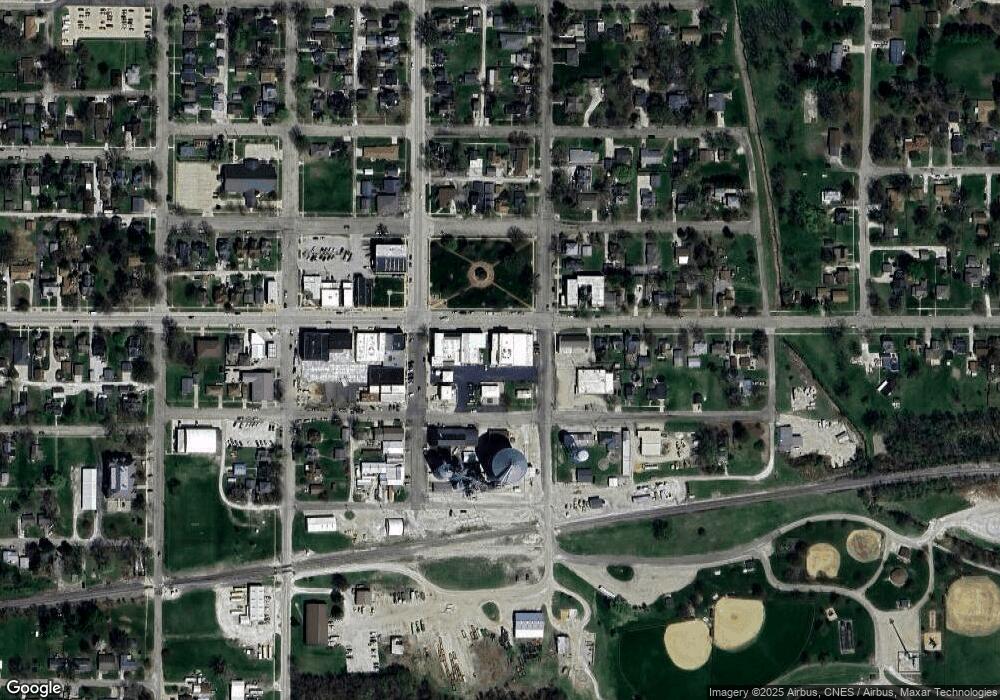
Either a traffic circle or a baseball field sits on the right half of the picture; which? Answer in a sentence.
It is a baseball field that can be seen on the right half of the picture.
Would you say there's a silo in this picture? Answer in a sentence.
Yes, a silo appears in the view.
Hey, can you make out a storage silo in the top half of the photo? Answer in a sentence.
No, no storage silo can be made out in the top half of the photo.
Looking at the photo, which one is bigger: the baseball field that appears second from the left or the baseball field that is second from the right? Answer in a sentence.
The baseball field that appears second from the left takes up more space than the baseball field that is second from the right.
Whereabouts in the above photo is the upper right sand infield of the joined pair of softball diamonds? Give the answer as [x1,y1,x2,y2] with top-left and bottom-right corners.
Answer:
[713,597,765,651]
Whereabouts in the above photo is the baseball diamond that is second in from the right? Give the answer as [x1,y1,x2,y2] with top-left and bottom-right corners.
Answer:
[847,528,884,562]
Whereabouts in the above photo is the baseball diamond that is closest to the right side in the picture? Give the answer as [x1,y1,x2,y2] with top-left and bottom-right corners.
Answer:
[946,573,1000,637]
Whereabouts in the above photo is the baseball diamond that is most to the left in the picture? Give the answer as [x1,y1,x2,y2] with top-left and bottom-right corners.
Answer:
[664,619,713,670]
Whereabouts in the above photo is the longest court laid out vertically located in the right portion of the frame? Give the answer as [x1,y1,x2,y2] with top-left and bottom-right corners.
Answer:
[838,619,855,654]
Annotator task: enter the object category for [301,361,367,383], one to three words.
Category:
building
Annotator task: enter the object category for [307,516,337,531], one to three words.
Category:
barn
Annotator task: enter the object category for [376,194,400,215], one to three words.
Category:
house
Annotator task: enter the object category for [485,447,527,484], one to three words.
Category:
silo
